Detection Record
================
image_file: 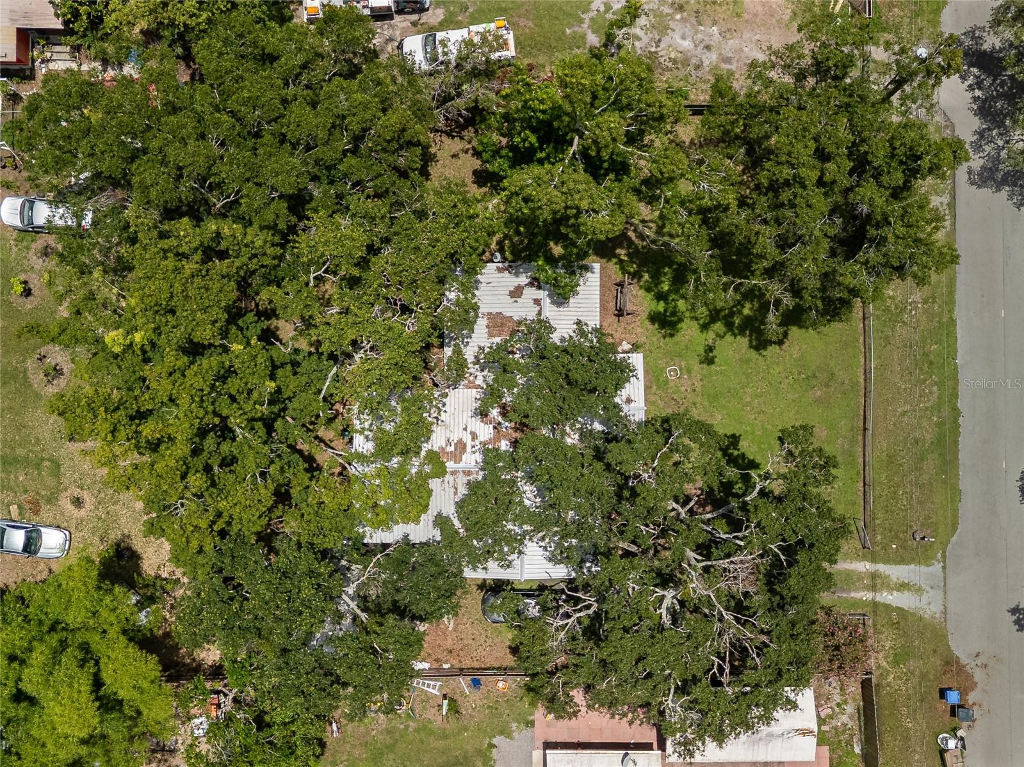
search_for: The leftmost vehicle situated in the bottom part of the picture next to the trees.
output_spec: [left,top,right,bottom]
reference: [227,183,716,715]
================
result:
[0,515,77,563]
